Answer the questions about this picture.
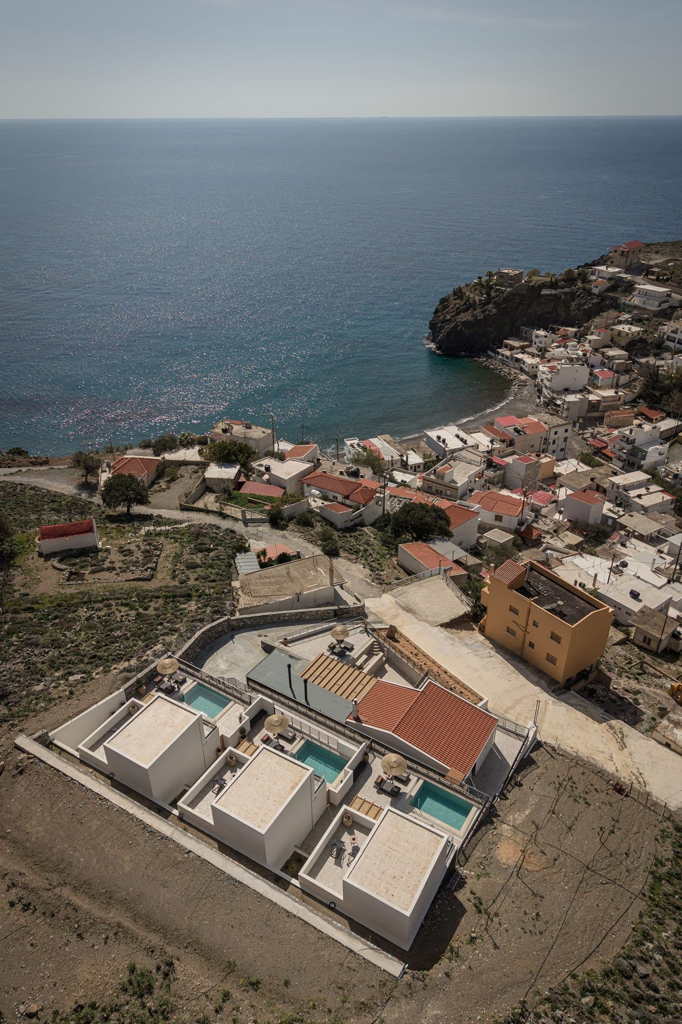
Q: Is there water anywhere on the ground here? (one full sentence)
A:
Yes, water can be seen from above here.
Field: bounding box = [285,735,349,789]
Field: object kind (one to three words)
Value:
swimming pool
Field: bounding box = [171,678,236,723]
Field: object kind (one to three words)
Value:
swimming pool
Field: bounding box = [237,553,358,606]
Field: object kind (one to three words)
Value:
building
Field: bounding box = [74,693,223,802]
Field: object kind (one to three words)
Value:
house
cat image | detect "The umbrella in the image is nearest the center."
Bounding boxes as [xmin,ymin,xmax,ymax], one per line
[329,627,349,647]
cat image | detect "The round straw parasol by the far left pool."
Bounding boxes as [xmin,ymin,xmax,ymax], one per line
[154,658,178,682]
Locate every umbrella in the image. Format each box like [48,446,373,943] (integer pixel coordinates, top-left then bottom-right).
[154,658,178,682]
[329,627,349,647]
[264,713,290,740]
[378,754,405,783]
